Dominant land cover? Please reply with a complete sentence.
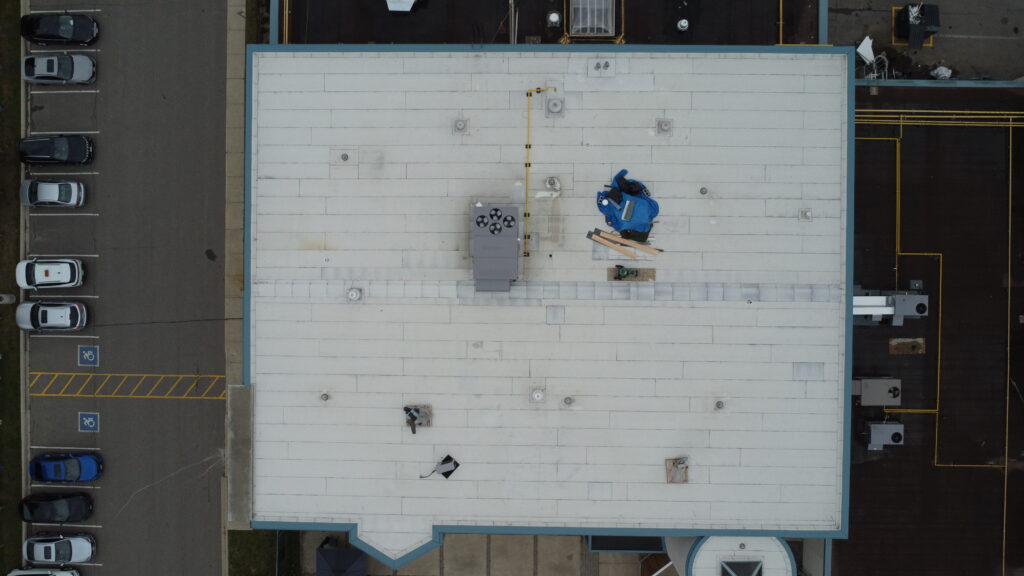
The largest share of the image is taken up by buildings.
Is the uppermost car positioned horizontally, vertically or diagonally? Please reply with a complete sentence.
From this overhead view, the uppermost car appears to run horizontally.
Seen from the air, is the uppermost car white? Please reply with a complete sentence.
No, the color of the uppermost car is black.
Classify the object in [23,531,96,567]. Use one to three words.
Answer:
car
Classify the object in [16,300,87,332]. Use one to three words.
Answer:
car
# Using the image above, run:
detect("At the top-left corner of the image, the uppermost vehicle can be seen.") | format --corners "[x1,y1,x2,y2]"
[20,11,98,48]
